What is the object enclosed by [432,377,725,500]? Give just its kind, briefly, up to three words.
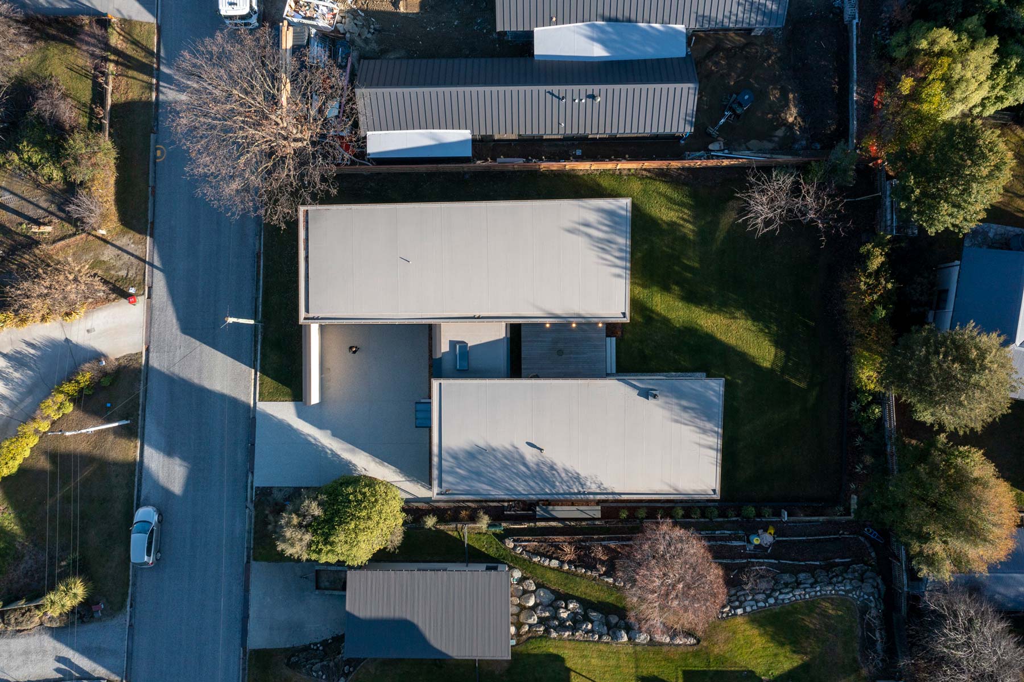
house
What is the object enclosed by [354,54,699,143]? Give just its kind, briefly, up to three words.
house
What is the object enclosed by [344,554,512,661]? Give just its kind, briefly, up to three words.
building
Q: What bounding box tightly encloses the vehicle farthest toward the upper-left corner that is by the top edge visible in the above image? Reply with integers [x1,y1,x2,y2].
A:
[219,0,256,30]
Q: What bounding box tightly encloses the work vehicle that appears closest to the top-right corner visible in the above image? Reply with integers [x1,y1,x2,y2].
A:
[700,84,759,139]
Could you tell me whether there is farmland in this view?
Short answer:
No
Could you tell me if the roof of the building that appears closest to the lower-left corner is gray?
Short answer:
Yes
